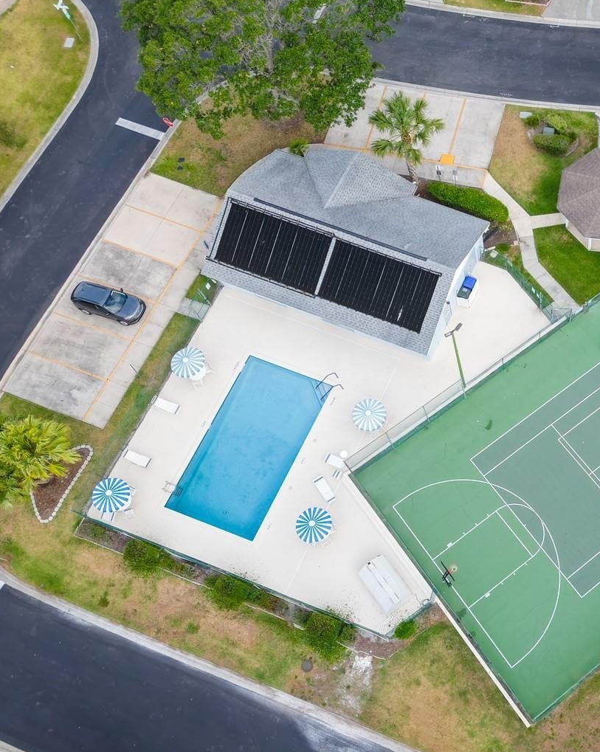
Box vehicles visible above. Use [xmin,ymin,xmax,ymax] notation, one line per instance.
[68,285,144,329]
